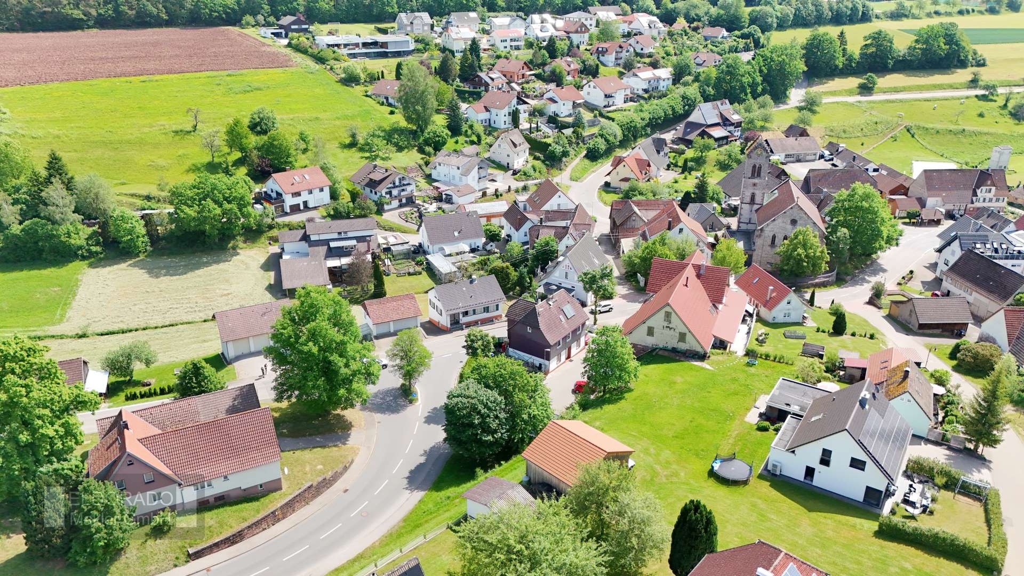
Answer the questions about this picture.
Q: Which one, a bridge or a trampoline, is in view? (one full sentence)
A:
The image shows a trampoline.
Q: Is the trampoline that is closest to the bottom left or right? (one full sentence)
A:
The trampoline that is closest to the bottom sits on the right side.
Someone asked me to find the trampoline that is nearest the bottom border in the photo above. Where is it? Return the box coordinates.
[711,447,754,483]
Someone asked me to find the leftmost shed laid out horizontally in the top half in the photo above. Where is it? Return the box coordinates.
[138,208,176,225]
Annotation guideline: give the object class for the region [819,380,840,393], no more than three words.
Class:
umbrella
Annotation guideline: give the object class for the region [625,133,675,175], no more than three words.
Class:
house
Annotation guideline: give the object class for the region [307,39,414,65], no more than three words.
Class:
house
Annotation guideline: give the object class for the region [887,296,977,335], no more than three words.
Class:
shed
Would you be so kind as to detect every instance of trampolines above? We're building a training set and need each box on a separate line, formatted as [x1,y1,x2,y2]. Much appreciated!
[711,447,754,483]
[746,348,760,366]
